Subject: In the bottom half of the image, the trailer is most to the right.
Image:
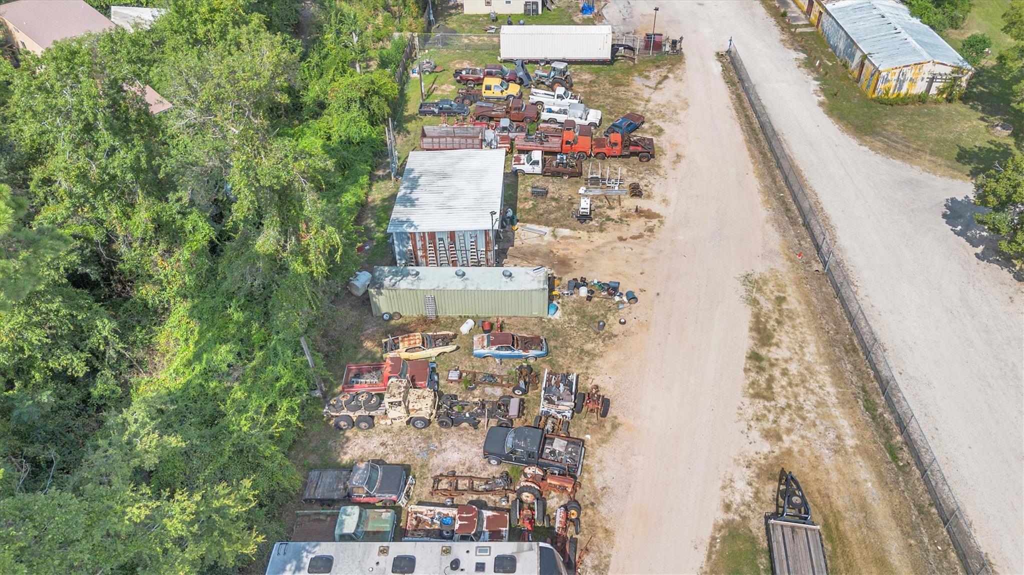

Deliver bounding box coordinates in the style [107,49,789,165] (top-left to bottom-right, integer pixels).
[766,471,827,575]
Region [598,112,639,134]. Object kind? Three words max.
car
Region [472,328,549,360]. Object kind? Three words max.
car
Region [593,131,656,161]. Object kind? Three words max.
truck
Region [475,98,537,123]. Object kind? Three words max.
truck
